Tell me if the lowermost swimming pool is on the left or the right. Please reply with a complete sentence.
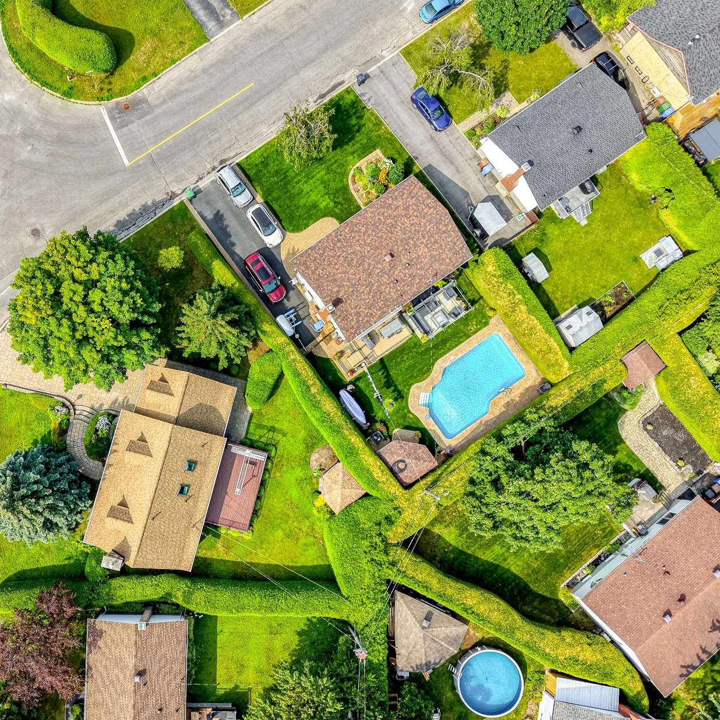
You can find the lowermost swimming pool on the right side of the picture.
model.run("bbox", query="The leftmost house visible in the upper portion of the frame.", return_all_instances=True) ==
[288,174,474,344]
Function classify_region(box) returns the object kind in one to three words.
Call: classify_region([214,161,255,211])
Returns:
car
